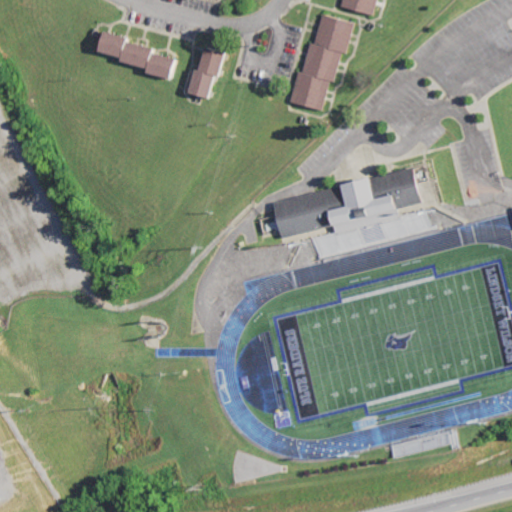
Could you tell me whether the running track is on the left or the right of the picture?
right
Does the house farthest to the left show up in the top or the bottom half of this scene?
top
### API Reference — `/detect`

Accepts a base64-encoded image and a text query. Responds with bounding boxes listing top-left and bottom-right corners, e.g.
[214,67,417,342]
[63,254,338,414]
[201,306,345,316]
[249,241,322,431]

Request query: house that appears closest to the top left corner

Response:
[97,32,177,80]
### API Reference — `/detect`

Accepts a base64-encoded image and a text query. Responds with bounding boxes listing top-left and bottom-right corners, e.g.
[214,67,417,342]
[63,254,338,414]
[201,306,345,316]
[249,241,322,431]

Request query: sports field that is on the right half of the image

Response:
[272,258,512,424]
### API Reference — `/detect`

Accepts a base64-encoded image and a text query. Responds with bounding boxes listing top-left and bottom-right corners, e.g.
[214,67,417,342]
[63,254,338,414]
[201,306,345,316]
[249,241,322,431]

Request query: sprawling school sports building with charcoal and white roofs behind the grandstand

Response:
[274,170,430,237]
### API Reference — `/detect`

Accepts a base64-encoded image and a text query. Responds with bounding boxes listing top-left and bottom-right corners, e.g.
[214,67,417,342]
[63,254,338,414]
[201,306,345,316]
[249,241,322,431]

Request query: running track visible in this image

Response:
[216,222,512,460]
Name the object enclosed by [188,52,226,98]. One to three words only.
house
